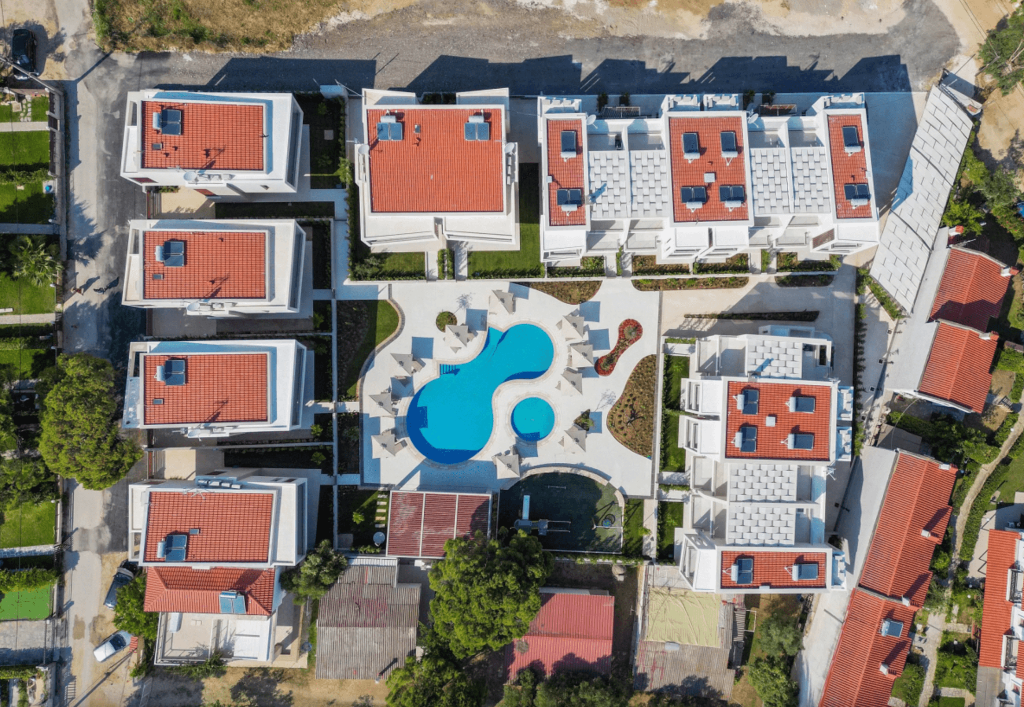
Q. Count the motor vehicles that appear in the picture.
3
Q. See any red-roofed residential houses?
Yes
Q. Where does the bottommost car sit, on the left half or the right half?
left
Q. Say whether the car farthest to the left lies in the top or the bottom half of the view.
top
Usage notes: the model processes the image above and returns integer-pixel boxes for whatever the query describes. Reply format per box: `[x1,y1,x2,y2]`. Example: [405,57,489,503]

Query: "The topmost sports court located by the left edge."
[0,584,50,620]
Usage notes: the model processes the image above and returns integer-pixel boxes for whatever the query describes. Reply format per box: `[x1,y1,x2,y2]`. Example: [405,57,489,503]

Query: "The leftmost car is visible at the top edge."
[12,28,40,82]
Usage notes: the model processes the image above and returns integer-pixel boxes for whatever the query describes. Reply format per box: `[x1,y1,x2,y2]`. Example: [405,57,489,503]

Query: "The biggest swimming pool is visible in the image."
[400,316,561,471]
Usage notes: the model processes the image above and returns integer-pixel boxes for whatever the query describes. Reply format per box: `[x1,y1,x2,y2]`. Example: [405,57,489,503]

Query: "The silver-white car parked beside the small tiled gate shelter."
[88,630,136,669]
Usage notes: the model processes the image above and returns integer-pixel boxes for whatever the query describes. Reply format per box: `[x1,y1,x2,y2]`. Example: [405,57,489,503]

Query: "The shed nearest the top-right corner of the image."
[937,85,982,119]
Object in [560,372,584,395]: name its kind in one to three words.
umbrella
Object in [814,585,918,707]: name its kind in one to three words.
house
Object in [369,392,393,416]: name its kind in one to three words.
umbrella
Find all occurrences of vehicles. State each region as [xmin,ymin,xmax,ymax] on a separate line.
[88,630,136,669]
[12,28,40,82]
[101,557,143,613]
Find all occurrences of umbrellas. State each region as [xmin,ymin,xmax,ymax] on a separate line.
[495,453,521,479]
[370,433,397,459]
[389,352,414,377]
[570,344,595,369]
[488,285,516,314]
[563,428,587,453]
[562,314,587,339]
[444,321,470,346]
[369,392,393,416]
[560,372,584,395]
